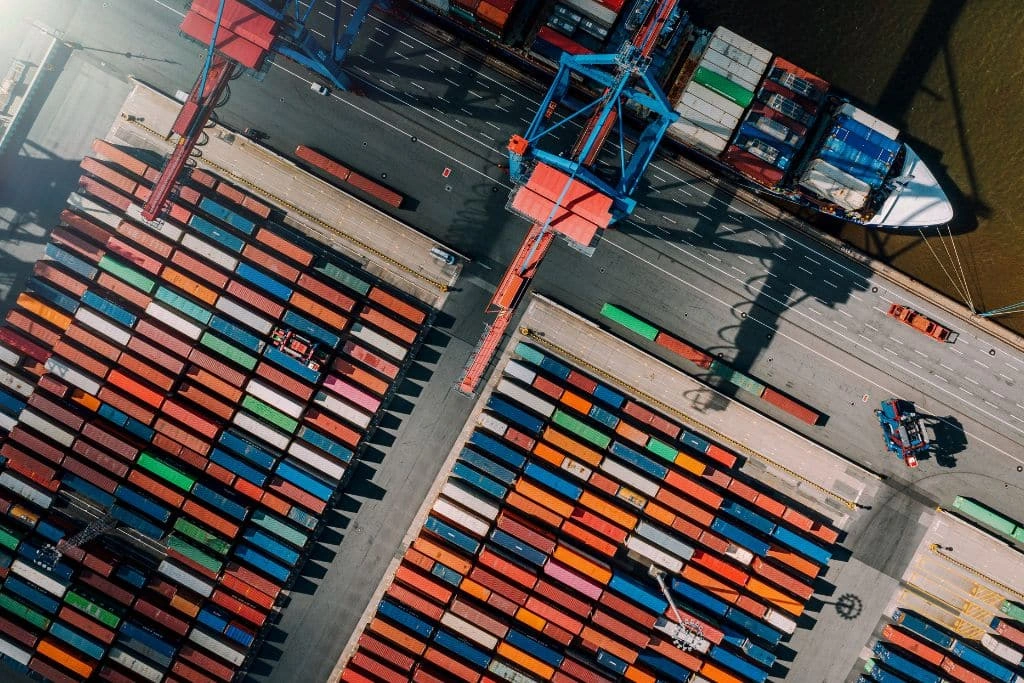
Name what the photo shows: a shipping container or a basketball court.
shipping container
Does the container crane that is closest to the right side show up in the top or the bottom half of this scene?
top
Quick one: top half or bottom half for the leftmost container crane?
top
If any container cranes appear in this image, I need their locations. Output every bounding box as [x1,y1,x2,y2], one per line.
[135,0,417,230]
[453,0,695,398]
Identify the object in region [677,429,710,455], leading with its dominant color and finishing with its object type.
blue shipping container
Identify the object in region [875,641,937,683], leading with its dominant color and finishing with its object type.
blue shipping container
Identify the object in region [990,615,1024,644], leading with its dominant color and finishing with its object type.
red shipping container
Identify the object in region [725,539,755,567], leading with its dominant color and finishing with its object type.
white shipping container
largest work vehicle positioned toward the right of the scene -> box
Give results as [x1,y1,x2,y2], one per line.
[877,398,938,466]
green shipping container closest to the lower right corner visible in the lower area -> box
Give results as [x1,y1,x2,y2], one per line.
[996,597,1024,623]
